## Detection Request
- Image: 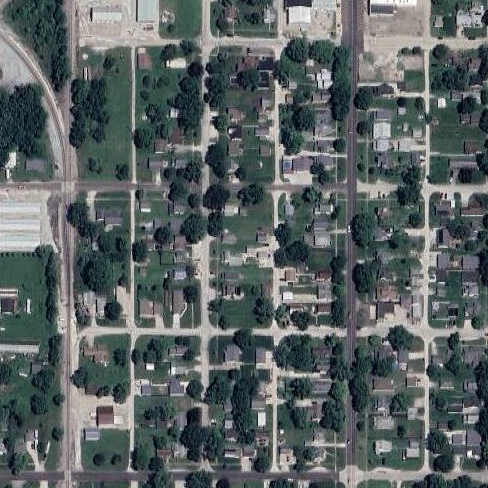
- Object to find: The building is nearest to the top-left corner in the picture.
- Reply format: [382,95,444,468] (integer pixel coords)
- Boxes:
[91,7,122,24]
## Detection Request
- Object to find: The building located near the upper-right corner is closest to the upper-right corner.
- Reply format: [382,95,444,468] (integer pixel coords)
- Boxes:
[457,9,485,31]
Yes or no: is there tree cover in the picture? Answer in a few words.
Yes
